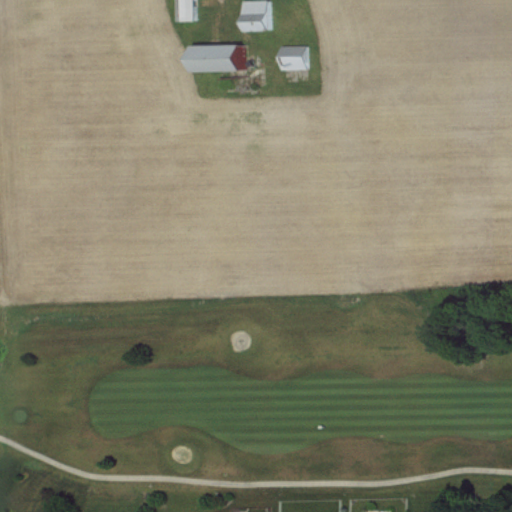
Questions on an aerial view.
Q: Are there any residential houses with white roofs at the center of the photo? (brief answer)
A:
No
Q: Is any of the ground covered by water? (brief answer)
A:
No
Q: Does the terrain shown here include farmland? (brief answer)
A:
Yes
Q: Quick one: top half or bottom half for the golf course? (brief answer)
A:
bottom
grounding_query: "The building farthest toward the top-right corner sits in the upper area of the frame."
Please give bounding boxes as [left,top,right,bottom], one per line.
[276,47,310,71]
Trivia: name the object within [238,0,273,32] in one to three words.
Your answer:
house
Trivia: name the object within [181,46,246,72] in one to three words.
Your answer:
barn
